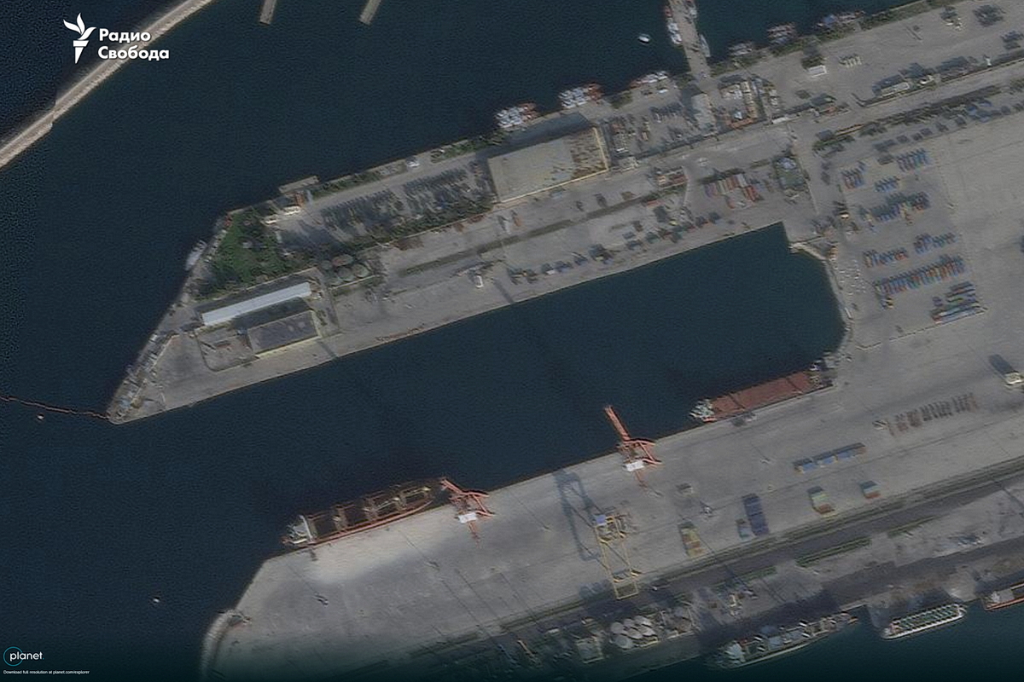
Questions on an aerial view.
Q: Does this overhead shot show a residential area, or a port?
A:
port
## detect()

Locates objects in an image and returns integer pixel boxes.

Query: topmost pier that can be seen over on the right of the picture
[670,0,710,71]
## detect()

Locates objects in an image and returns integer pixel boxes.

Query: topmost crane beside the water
[602,405,664,492]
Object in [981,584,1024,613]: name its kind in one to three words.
ship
